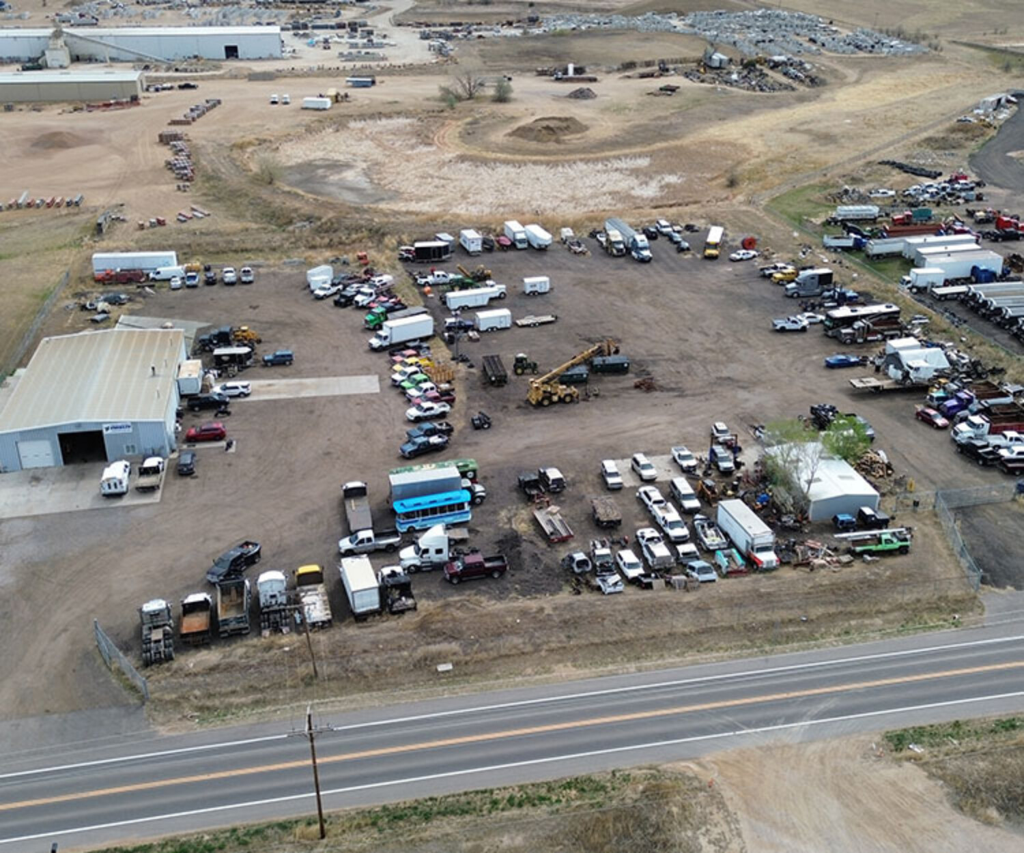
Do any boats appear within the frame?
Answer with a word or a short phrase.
Yes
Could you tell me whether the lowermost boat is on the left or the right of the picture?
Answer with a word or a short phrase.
right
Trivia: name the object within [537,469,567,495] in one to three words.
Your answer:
car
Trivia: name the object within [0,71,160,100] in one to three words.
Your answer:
barn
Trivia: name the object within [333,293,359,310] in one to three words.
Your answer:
vehicle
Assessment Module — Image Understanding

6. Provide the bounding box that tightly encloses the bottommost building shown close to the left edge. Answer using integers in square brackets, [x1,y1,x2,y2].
[0,327,195,476]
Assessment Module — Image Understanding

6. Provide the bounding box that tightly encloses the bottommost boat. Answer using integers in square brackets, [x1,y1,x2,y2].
[692,516,729,560]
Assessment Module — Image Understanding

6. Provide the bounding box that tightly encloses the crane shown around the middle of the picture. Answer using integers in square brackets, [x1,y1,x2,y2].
[528,339,618,403]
